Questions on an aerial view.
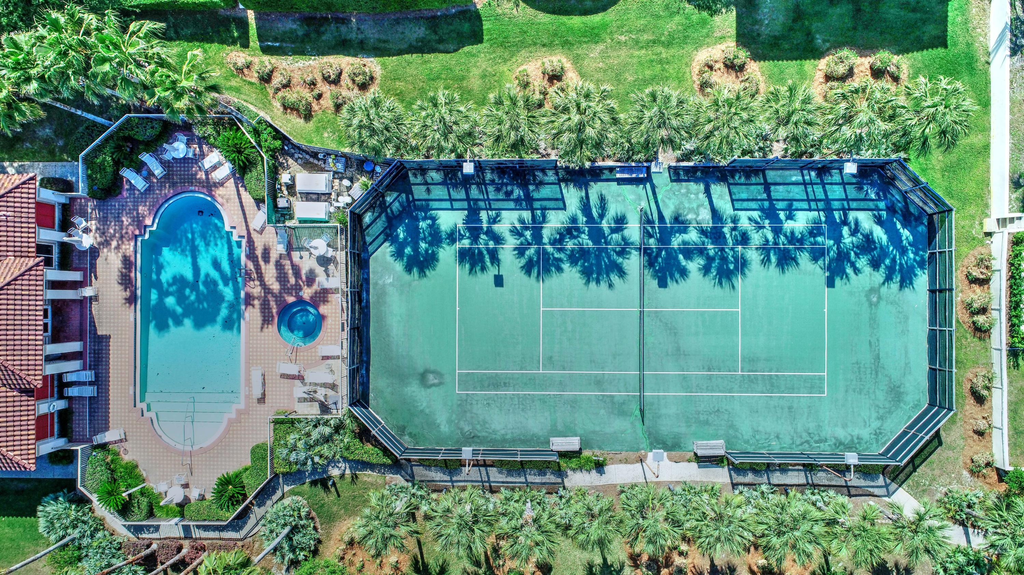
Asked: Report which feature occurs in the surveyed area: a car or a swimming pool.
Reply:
swimming pool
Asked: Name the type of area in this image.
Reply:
sports ground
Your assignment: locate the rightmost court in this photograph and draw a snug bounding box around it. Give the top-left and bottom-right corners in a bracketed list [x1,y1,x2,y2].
[360,170,927,452]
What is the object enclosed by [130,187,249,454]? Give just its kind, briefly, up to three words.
swimming pool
